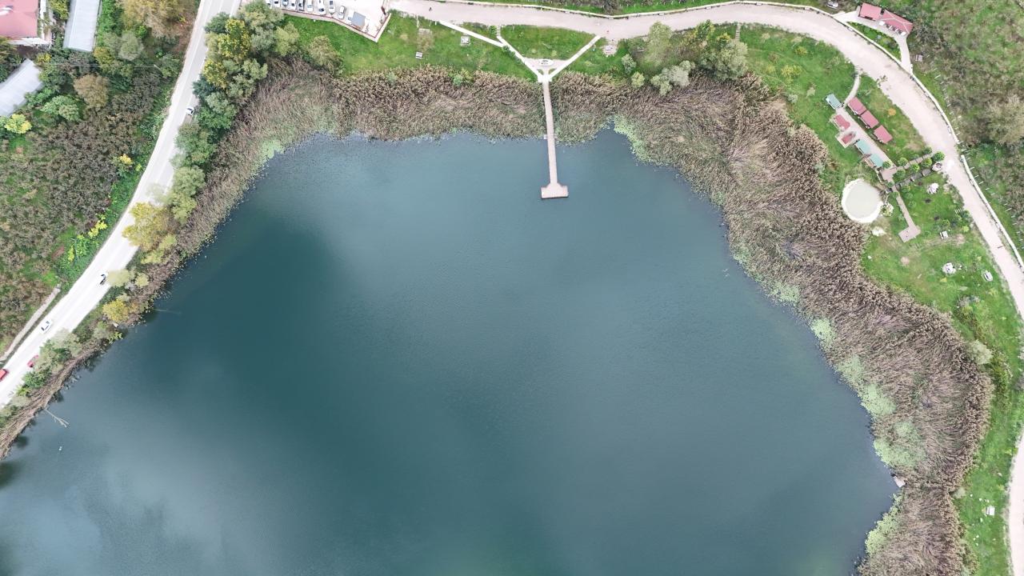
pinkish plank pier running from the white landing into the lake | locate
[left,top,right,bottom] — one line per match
[541,80,568,198]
